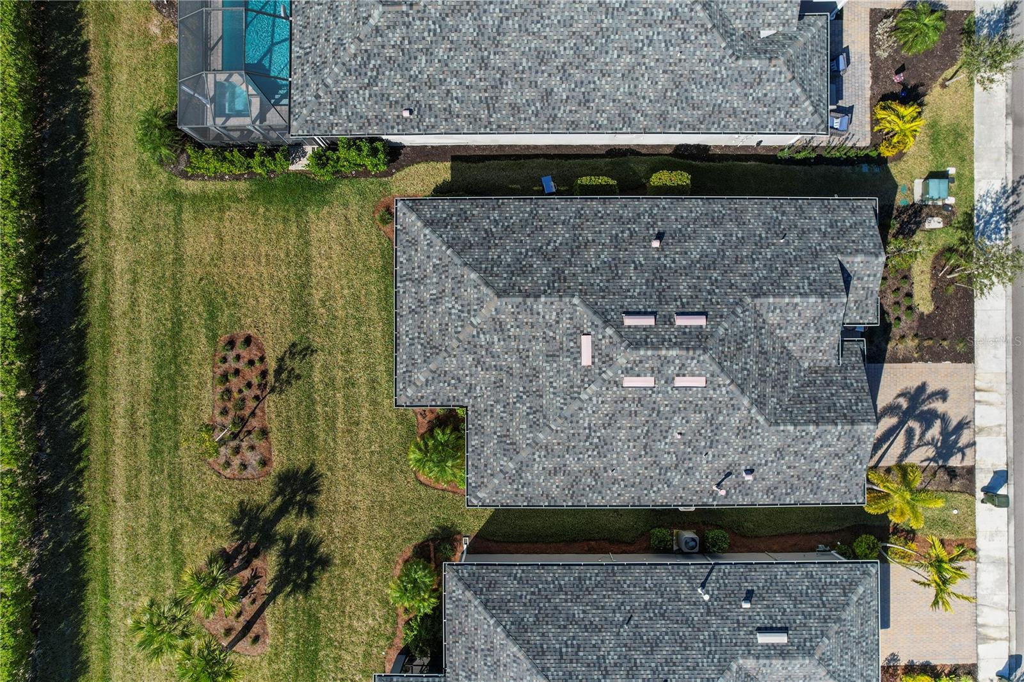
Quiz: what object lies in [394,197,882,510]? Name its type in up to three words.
house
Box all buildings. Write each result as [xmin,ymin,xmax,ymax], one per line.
[372,550,881,682]
[290,0,851,147]
[394,197,882,510]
